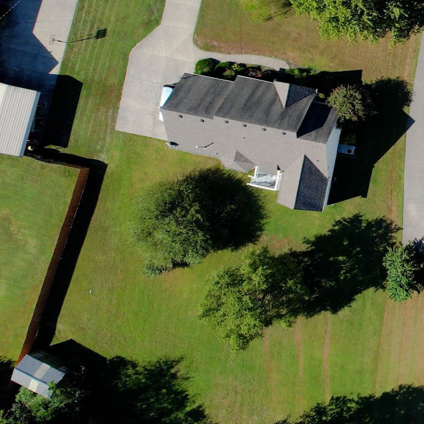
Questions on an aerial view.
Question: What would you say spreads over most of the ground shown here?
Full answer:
The largest share of the image is taken up by grass.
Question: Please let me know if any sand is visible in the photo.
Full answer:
No, there's no sand in this view.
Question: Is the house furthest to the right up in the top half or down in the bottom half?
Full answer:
The house furthest to the right is in the top half of the image.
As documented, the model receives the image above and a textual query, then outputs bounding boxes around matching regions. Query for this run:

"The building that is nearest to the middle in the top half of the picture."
[161,72,344,212]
